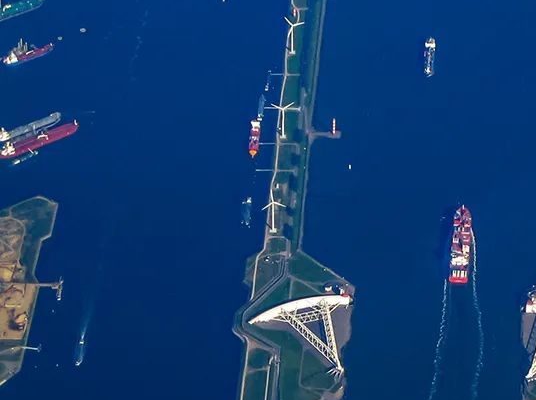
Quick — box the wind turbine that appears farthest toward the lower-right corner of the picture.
[262,194,287,232]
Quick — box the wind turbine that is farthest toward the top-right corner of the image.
[285,19,307,54]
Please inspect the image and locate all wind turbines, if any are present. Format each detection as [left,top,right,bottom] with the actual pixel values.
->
[285,19,307,54]
[262,194,287,232]
[272,105,295,139]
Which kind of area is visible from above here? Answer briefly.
port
